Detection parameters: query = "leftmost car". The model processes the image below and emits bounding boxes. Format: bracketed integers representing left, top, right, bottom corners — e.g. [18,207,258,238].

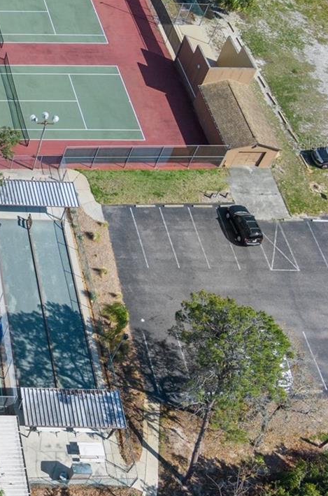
[226,204,269,249]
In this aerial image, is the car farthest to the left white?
No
